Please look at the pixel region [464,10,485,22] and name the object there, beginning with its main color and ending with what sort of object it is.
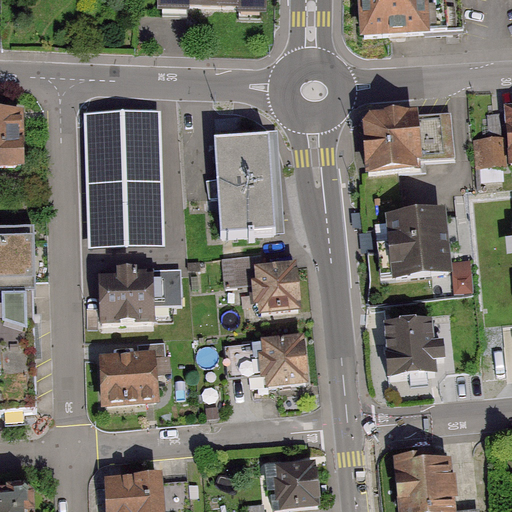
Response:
white vehicle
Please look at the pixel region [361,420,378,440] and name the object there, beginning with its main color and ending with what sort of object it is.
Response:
white work vehicle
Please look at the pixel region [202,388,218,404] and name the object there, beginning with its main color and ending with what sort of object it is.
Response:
white umbrella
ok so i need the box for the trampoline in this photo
[220,310,240,330]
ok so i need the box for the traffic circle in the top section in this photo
[268,47,358,134]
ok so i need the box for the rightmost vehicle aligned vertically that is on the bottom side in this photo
[494,348,506,380]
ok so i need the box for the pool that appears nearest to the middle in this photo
[196,346,219,370]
